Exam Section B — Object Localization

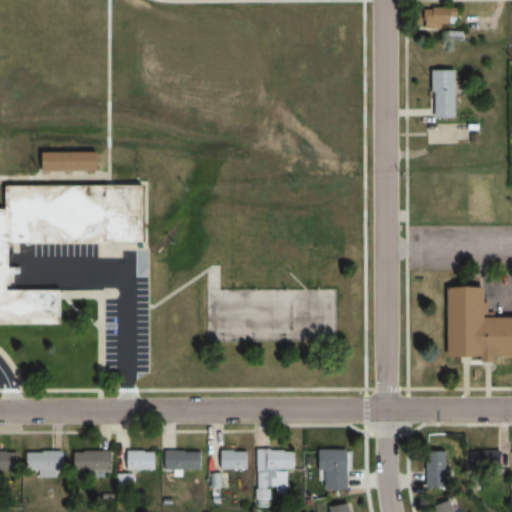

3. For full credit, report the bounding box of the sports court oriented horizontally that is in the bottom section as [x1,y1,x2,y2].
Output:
[207,288,336,341]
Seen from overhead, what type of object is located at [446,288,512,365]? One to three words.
building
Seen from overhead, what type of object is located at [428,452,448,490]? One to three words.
house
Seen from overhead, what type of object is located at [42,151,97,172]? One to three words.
shed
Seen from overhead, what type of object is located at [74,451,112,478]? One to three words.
house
